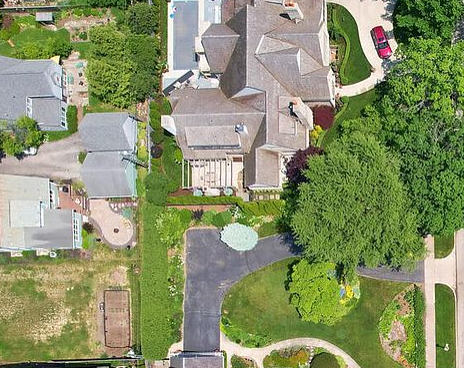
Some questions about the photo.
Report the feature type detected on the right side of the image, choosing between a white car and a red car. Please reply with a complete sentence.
The one visible on the right side of the image is a red car.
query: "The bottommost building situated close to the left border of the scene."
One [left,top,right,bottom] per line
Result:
[0,175,82,253]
